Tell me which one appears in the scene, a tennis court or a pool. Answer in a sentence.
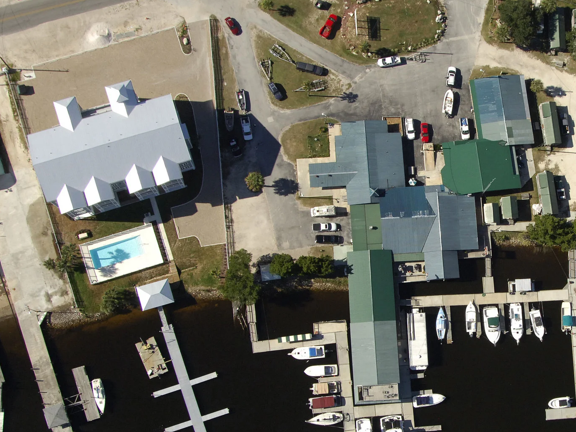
The image shows a pool.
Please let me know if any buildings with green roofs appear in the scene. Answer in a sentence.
Yes, the image includes a building with a green roof.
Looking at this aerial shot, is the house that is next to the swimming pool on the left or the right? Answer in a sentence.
You can find the house that is next to the swimming pool on the left side of the picture.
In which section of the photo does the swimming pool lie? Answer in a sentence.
The swimming pool is located in the left region of the scene.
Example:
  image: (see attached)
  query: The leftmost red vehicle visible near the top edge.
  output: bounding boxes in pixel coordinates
[224,16,239,35]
